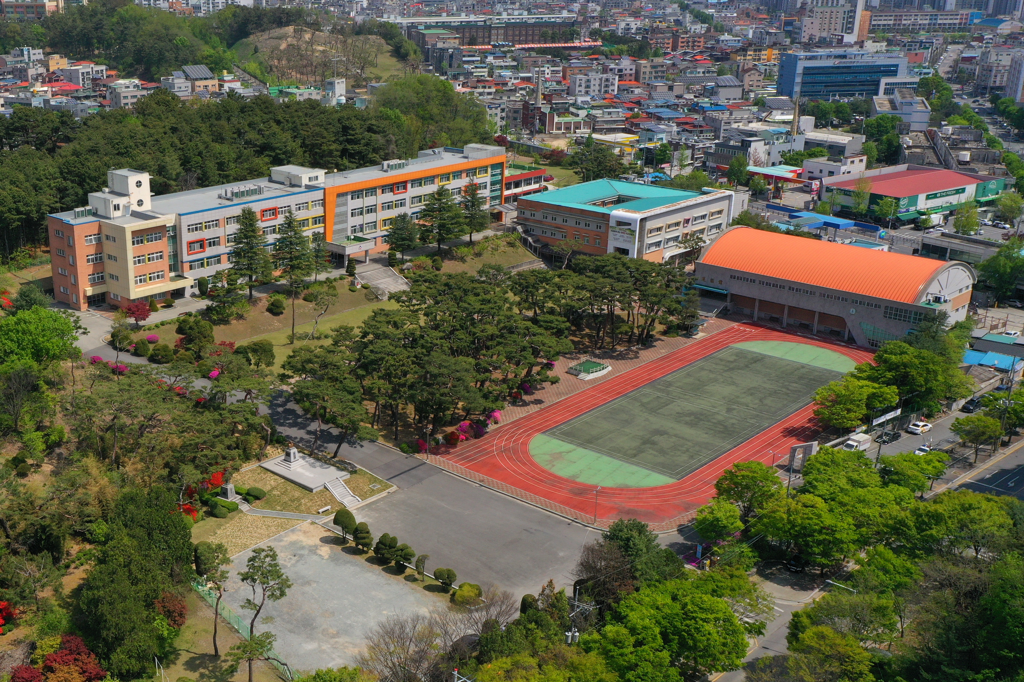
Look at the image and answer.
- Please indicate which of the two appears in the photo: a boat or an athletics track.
athletics track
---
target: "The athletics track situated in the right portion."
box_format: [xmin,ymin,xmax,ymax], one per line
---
[426,320,915,525]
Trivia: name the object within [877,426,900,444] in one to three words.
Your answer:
car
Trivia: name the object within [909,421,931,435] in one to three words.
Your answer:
car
